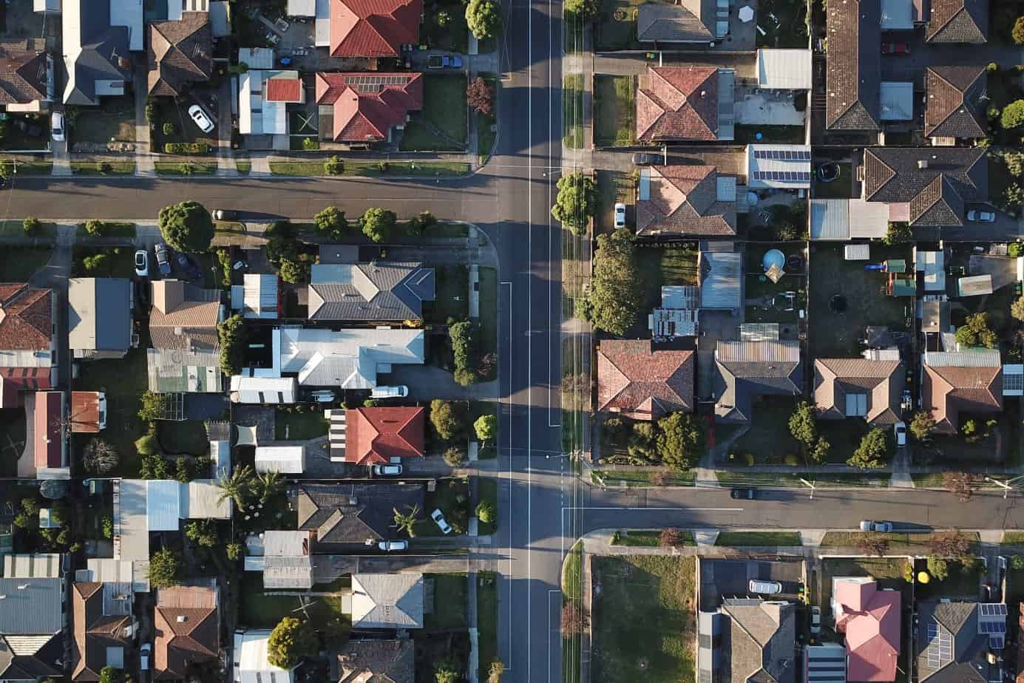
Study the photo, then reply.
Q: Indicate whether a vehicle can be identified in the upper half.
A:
Yes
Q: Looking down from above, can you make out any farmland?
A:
No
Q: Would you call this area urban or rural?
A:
urban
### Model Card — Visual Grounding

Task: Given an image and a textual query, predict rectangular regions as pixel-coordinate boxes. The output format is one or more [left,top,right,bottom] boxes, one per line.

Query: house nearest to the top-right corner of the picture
[913,0,988,45]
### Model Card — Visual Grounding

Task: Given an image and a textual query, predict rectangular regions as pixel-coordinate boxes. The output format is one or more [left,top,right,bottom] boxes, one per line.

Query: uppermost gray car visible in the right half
[631,151,664,166]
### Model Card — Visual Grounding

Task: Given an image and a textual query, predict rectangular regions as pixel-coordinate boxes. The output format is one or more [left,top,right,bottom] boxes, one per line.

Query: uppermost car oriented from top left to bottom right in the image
[187,103,215,134]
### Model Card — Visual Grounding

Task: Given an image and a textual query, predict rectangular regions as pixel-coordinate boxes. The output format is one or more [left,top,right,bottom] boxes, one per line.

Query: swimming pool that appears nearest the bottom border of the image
[762,248,785,269]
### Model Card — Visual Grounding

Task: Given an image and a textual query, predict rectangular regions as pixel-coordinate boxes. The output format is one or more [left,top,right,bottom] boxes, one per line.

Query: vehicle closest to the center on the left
[372,384,406,400]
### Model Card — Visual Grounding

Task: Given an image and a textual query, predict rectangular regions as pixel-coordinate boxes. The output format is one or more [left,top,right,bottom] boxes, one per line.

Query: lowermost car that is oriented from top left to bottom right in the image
[430,507,453,535]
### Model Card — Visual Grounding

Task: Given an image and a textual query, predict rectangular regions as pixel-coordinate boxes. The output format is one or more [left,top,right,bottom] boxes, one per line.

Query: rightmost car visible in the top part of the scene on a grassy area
[613,202,628,230]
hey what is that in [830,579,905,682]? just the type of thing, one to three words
house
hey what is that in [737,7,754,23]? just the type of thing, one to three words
umbrella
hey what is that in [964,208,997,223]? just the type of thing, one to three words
car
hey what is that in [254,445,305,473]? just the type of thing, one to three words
building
